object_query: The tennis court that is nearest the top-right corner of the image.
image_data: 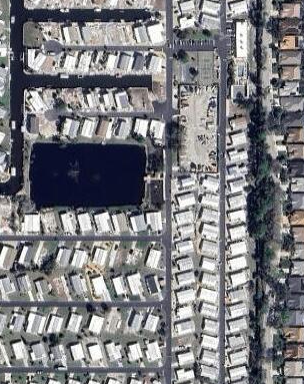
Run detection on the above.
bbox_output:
[197,51,214,83]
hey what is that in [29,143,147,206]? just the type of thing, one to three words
pond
